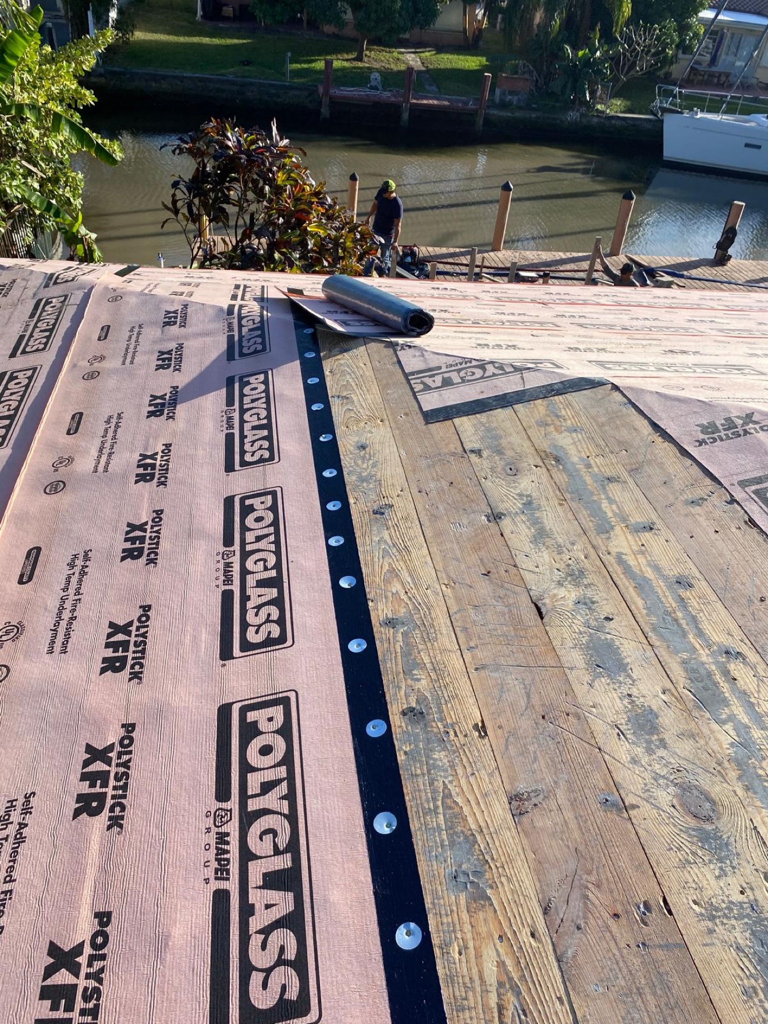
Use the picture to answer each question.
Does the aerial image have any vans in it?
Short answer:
No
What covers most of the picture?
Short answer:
buildings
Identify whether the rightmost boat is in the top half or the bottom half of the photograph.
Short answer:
top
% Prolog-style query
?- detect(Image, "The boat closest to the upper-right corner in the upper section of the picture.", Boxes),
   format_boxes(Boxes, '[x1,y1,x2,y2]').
[641,0,768,175]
